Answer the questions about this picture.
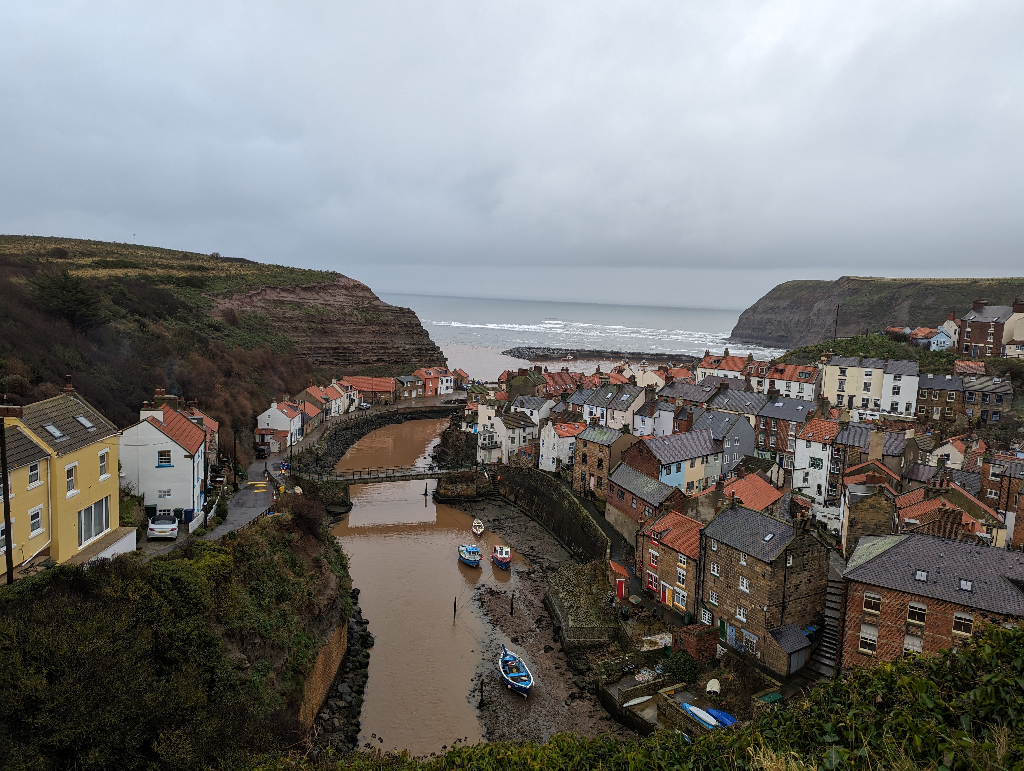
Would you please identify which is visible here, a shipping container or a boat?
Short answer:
boat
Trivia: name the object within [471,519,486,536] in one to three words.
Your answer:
boat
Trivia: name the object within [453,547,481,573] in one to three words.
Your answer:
boat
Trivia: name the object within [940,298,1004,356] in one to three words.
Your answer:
house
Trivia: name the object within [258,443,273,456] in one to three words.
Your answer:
vehicle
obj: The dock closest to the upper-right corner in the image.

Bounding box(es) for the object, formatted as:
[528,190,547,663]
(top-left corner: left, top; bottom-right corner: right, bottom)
[530,349,701,367]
